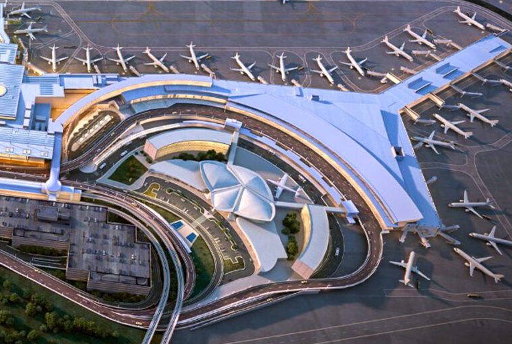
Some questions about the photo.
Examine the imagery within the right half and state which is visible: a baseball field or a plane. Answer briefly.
plane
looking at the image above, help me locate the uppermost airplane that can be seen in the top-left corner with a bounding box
[9,0,42,17]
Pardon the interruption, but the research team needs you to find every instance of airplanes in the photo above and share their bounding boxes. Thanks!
[401,20,436,49]
[262,51,303,82]
[36,46,73,71]
[412,129,460,156]
[449,186,498,219]
[15,20,48,39]
[469,224,512,256]
[455,249,507,282]
[385,252,435,288]
[103,42,138,71]
[303,50,343,84]
[433,114,474,138]
[333,43,373,75]
[9,0,42,17]
[176,41,212,70]
[224,49,260,81]
[452,3,484,30]
[461,104,502,125]
[377,32,413,62]
[137,44,170,72]
[70,43,107,71]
